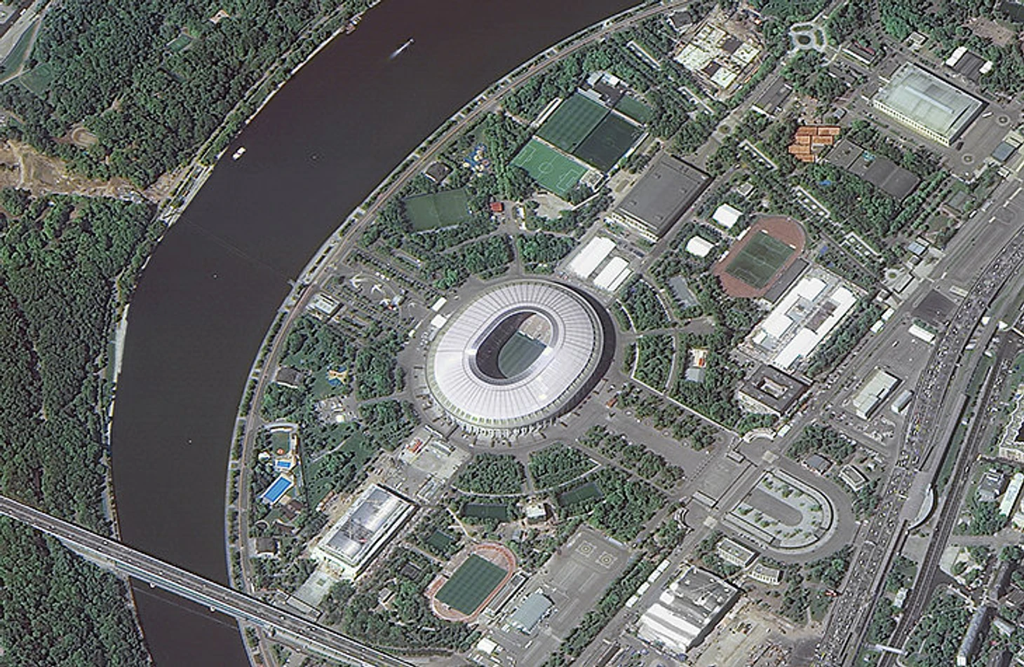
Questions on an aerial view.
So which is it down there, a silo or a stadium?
stadium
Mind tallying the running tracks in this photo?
2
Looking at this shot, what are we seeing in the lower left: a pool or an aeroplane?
pool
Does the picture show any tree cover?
Yes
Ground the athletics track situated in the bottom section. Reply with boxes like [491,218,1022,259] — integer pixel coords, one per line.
[427,542,516,625]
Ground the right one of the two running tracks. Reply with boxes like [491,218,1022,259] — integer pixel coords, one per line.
[716,217,807,299]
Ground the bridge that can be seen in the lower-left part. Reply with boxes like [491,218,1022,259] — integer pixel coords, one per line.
[0,496,418,667]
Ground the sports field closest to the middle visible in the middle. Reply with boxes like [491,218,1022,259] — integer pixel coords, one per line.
[482,333,544,379]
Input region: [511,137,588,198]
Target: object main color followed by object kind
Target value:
green soccer field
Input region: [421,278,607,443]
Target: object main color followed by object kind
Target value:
white stadium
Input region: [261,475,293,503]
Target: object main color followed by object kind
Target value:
blue swimming pool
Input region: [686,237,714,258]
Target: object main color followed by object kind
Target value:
white tent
